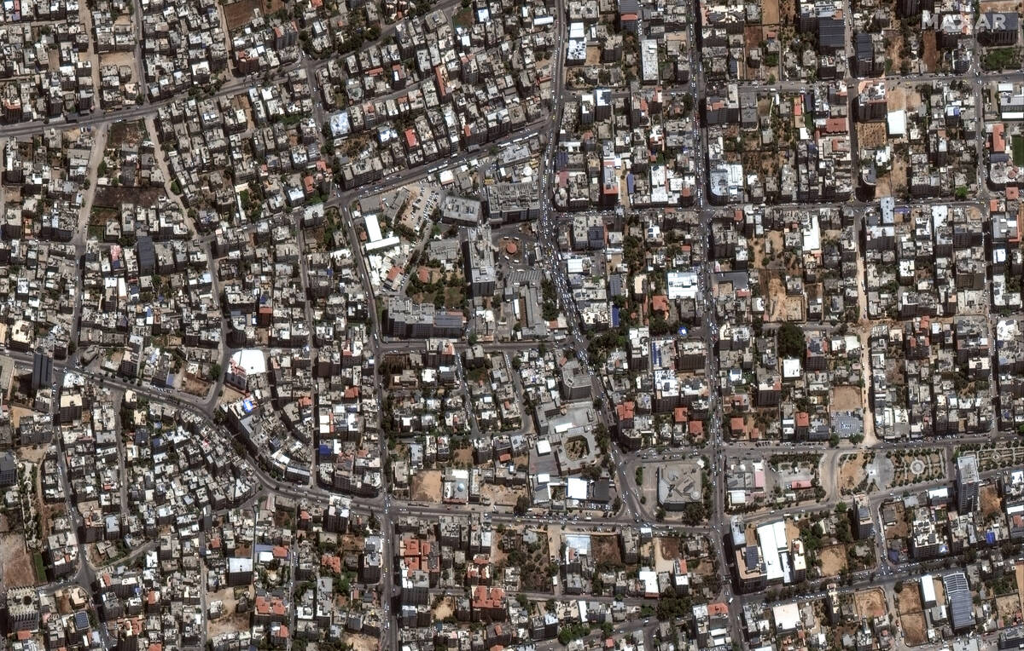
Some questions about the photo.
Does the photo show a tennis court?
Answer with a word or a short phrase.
No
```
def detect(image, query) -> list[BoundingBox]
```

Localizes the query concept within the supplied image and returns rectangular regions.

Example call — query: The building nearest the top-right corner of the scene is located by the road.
[981,11,1019,45]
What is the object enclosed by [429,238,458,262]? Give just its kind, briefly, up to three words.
house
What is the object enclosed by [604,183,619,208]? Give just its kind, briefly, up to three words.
building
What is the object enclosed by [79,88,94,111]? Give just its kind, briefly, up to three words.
building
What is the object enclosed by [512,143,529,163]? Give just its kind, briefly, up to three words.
house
